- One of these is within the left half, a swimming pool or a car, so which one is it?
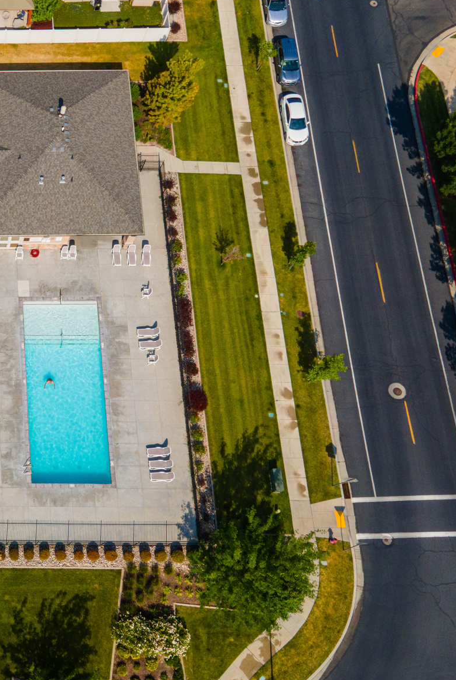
swimming pool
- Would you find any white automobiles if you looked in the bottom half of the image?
No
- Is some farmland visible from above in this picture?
No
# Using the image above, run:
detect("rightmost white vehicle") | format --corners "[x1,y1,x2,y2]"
[280,95,312,145]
